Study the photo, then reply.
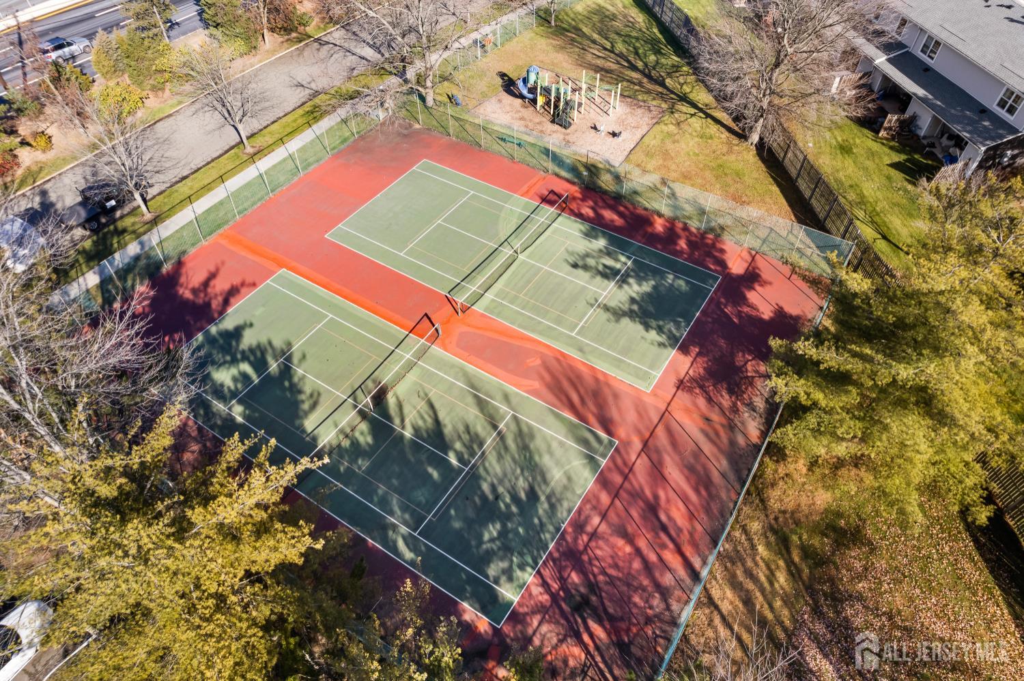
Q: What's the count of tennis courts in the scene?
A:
2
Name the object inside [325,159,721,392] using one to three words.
tennis court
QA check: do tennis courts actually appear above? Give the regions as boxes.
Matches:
[325,159,721,392]
[138,268,617,628]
